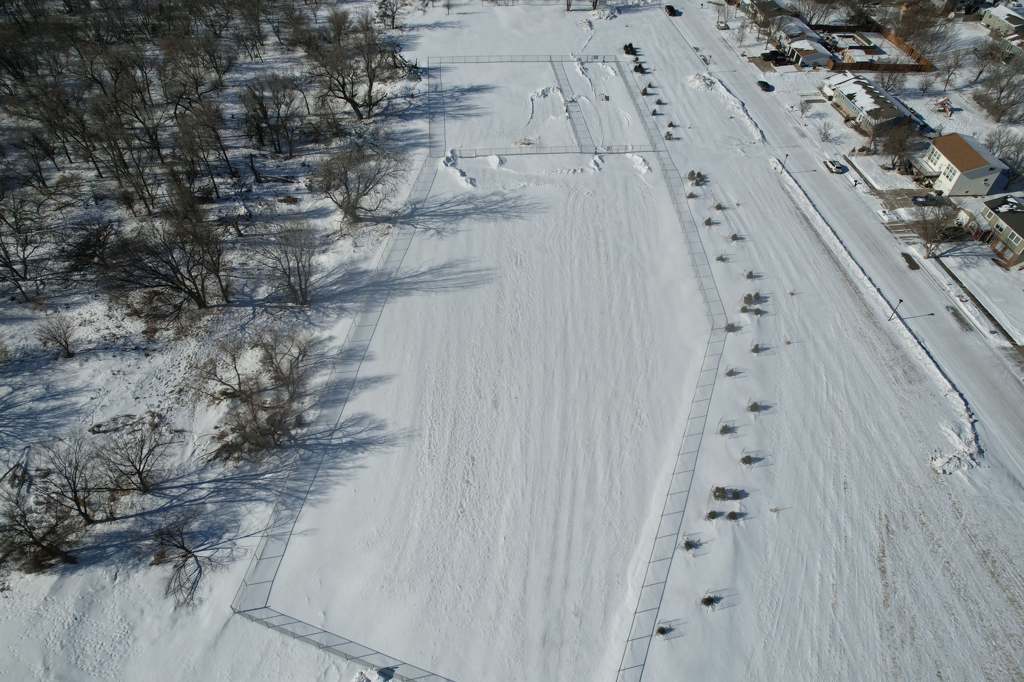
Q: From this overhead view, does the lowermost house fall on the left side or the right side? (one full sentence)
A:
The lowermost house is on the right side of the image.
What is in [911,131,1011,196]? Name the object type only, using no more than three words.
house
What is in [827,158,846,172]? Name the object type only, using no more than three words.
car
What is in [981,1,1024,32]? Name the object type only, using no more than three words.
house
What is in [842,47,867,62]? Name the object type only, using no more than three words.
shed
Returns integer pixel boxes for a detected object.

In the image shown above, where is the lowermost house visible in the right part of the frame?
[945,191,1024,277]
